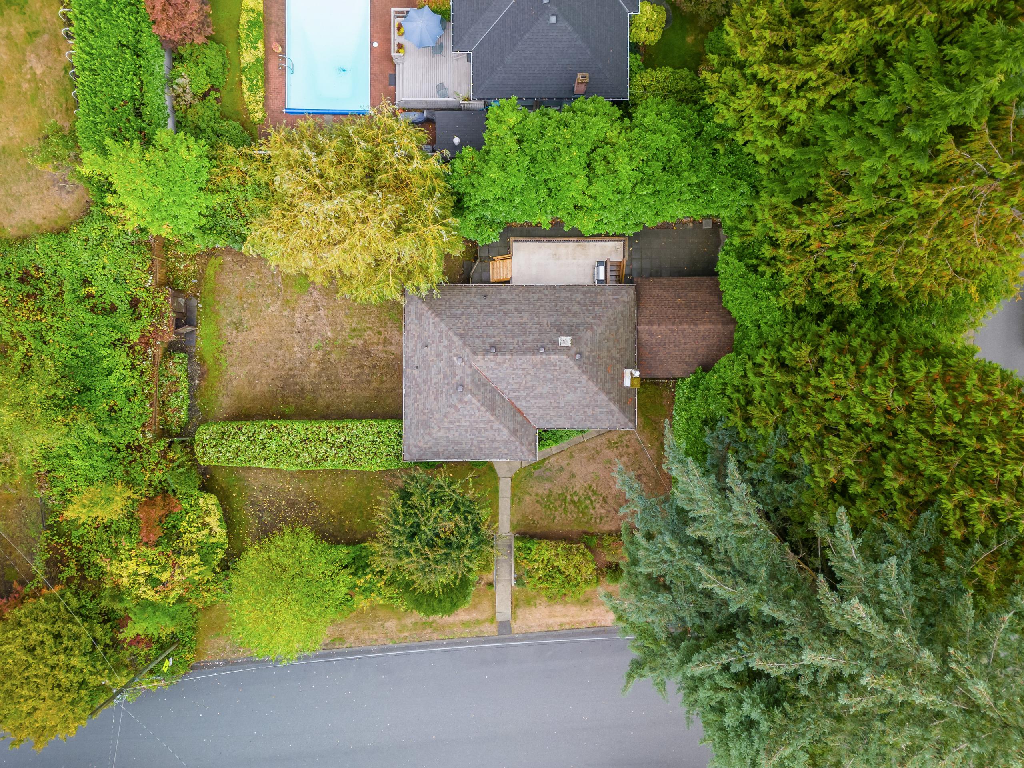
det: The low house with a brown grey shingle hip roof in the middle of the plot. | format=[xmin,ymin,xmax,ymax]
[404,284,641,461]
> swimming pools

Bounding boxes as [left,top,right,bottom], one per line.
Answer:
[284,0,371,115]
